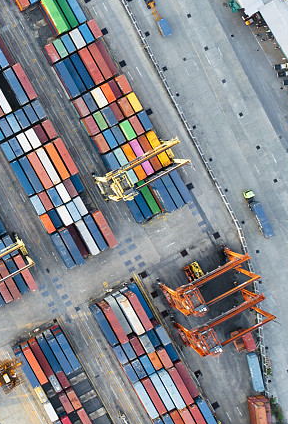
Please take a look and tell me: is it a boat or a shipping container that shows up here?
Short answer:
shipping container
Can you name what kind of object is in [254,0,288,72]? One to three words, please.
shed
